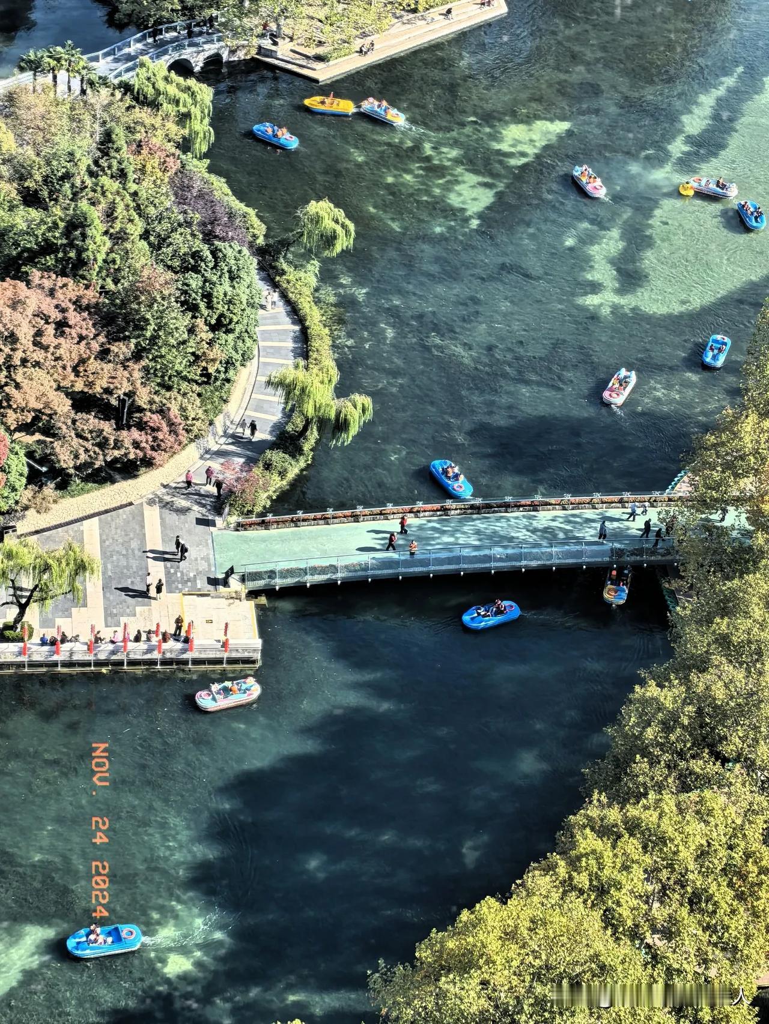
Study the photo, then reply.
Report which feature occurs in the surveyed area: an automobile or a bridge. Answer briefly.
bridge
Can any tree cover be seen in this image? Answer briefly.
Yes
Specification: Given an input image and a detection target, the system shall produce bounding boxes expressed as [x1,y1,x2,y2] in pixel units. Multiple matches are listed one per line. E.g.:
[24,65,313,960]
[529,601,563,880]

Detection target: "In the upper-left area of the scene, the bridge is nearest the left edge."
[82,15,270,79]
